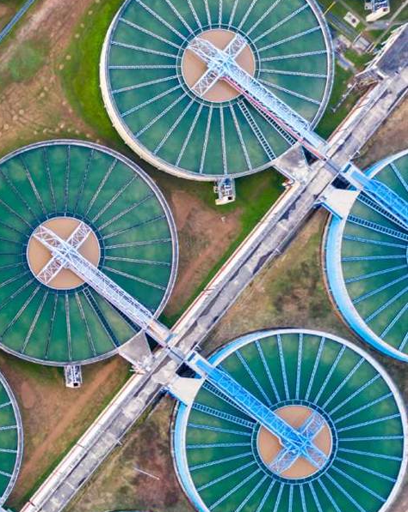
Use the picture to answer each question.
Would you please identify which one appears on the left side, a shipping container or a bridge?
bridge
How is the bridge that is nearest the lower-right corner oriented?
at an angle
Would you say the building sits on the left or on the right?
right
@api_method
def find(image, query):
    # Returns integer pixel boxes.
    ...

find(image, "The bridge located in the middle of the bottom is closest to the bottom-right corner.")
[179,350,315,460]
